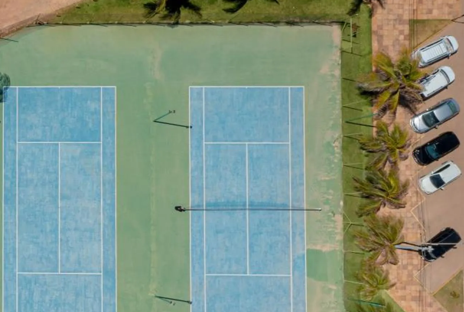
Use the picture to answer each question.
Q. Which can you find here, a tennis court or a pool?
tennis court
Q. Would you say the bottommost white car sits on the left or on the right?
right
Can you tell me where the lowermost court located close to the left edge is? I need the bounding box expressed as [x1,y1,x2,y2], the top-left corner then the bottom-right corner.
[2,86,117,312]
